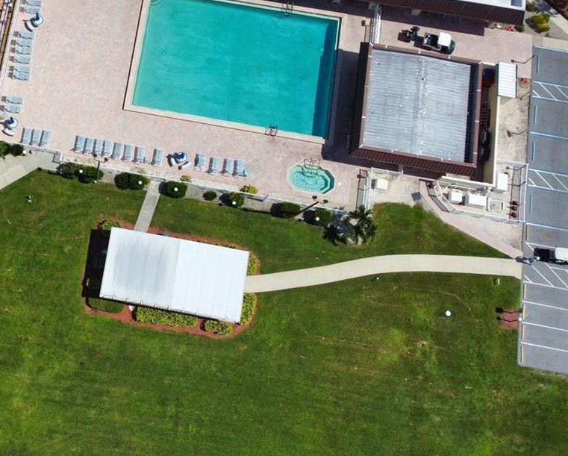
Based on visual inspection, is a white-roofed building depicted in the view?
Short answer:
Yes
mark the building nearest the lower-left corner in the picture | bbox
[99,227,248,324]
